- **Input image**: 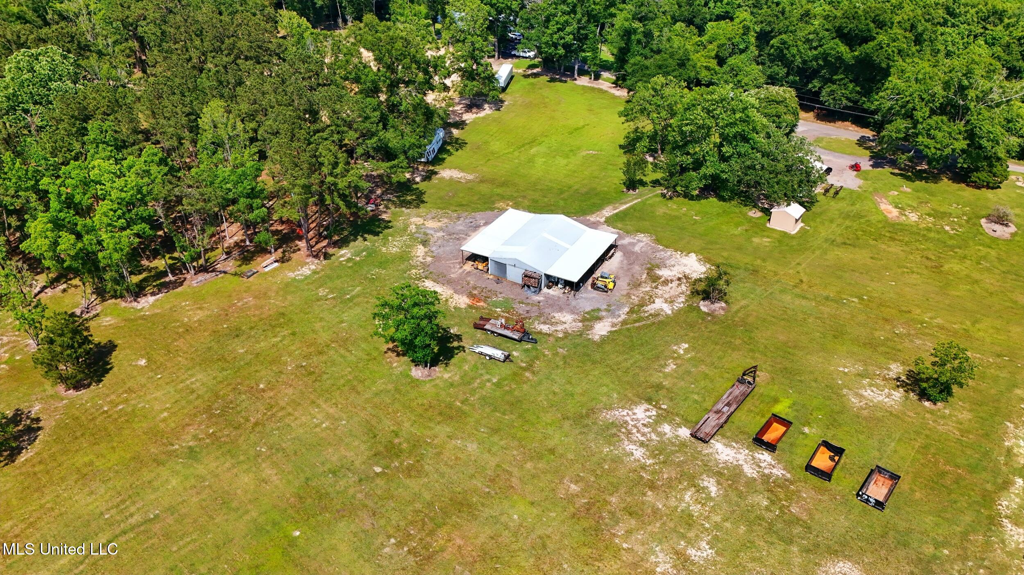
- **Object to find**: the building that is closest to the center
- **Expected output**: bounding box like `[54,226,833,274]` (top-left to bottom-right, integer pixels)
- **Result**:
[461,208,617,297]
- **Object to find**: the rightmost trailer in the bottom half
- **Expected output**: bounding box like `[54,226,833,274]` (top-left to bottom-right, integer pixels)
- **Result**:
[689,367,757,444]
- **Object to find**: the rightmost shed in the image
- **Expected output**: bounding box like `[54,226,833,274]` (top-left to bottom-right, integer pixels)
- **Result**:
[768,200,806,233]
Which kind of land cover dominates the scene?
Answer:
grass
